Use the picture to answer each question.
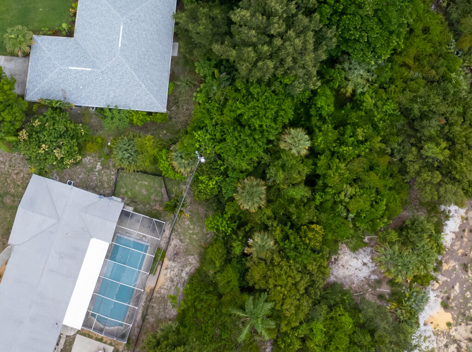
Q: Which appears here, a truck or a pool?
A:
pool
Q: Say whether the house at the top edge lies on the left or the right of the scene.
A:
left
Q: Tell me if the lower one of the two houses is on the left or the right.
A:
left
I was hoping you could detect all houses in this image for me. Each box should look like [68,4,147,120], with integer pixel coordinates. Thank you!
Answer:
[0,175,125,352]
[25,0,176,113]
